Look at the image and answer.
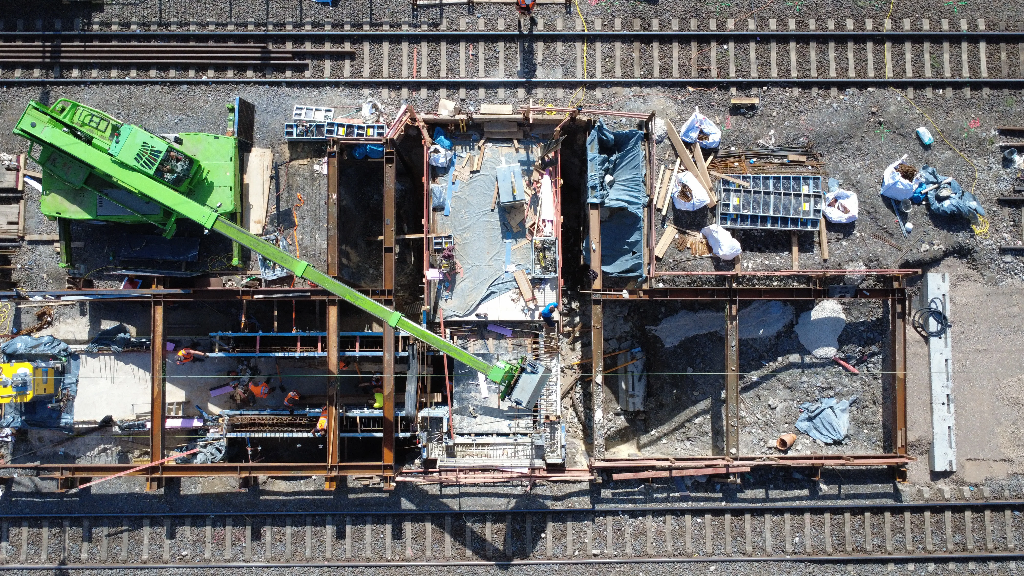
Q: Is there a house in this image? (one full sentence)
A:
No, no house can be seen from above.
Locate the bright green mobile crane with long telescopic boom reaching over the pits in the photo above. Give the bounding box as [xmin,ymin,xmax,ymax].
[11,97,552,410]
